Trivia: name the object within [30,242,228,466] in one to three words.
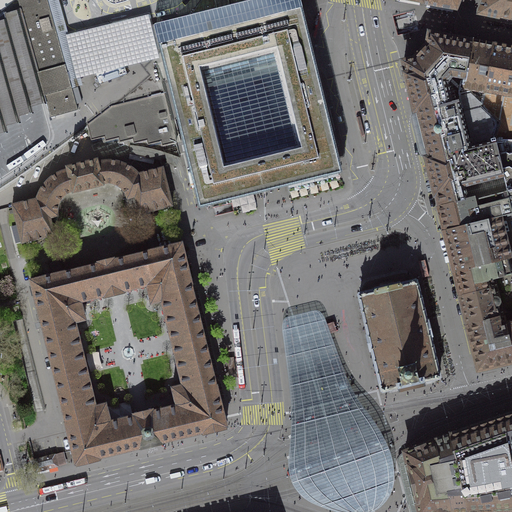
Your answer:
building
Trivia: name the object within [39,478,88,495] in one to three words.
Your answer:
vehicle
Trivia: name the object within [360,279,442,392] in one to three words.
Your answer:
building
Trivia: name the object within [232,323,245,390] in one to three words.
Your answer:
train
